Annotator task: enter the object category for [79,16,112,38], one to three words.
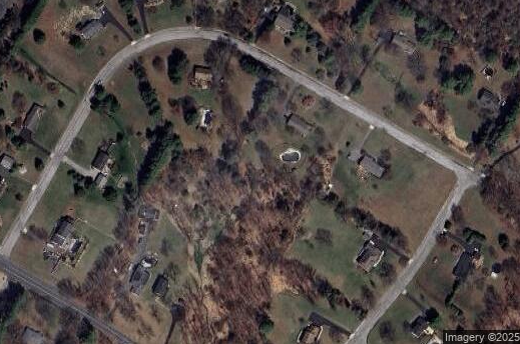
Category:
house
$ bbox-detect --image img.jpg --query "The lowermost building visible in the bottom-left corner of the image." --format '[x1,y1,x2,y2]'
[22,325,47,344]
